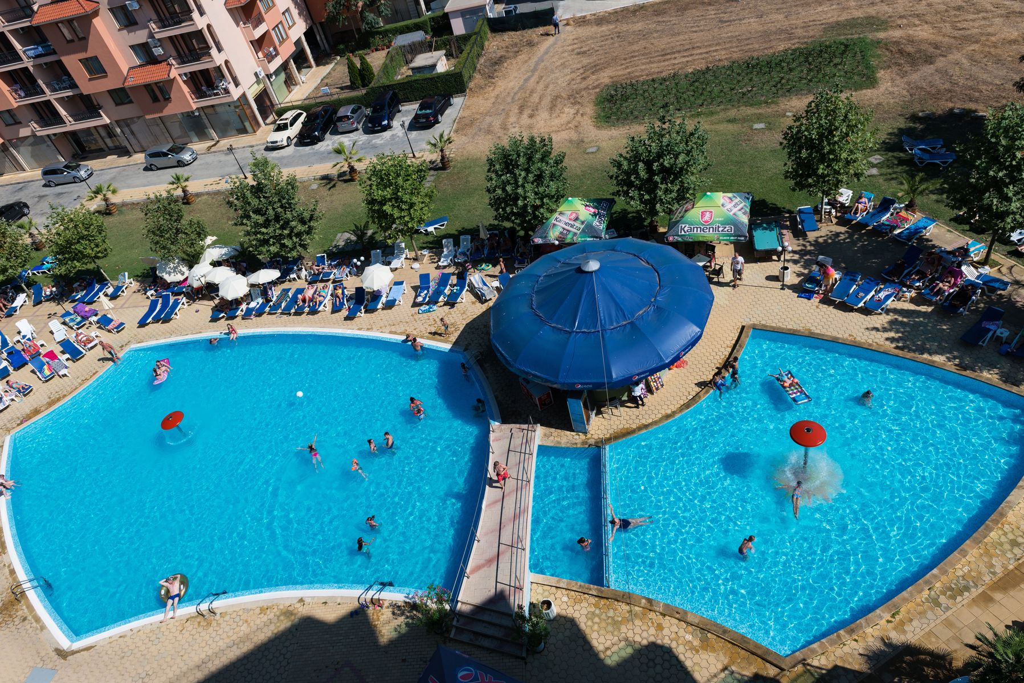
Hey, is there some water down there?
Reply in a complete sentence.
Yes, the picture does contain water.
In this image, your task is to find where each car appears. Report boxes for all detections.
[409,90,455,124]
[328,98,367,128]
[298,100,335,136]
[0,199,29,222]
[138,137,196,166]
[267,103,305,143]
[362,83,401,126]
[34,155,92,183]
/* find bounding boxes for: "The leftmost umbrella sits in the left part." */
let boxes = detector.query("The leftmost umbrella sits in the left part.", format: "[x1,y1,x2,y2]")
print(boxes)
[96,292,120,321]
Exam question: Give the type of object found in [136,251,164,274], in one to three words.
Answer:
umbrella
